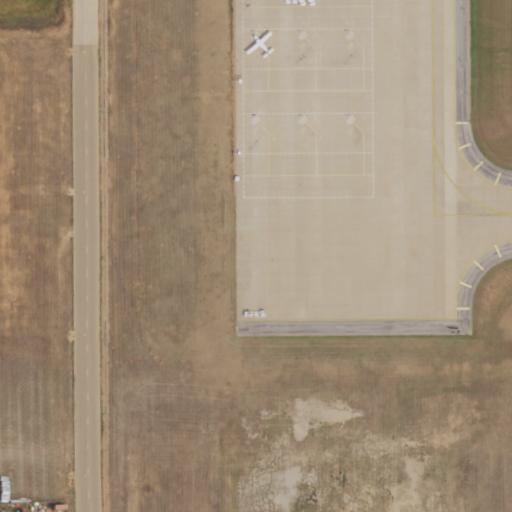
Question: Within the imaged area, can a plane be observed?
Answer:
Yes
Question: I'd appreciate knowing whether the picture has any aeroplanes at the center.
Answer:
No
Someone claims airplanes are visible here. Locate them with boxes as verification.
[246,30,274,58]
